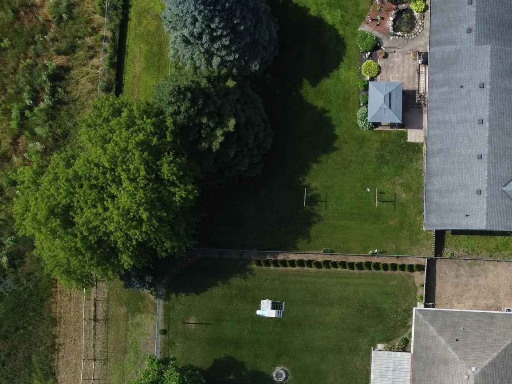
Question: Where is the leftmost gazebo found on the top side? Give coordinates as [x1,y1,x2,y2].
[368,81,404,129]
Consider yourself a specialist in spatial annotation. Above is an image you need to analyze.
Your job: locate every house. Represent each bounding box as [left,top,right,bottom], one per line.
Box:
[410,307,512,384]
[423,0,512,236]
